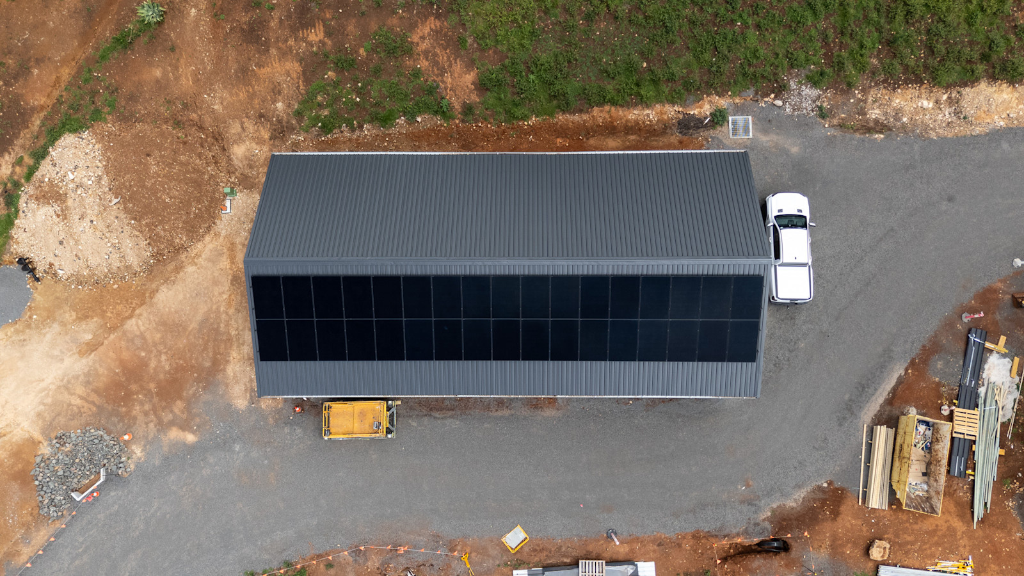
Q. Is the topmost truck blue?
No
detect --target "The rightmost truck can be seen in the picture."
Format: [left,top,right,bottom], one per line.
[761,192,814,306]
